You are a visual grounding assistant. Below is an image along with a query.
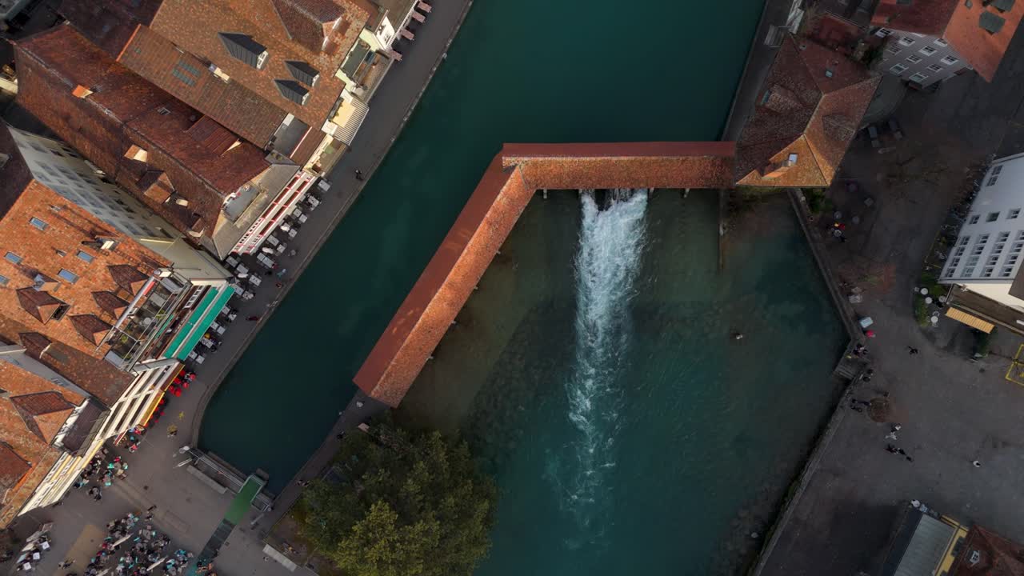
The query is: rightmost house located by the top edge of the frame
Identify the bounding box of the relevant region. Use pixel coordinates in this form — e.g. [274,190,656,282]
[851,0,1024,96]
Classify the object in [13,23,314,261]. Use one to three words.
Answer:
house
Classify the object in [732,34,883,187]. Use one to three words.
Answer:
house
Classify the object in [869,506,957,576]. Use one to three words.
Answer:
building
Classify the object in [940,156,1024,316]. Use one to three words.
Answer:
building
